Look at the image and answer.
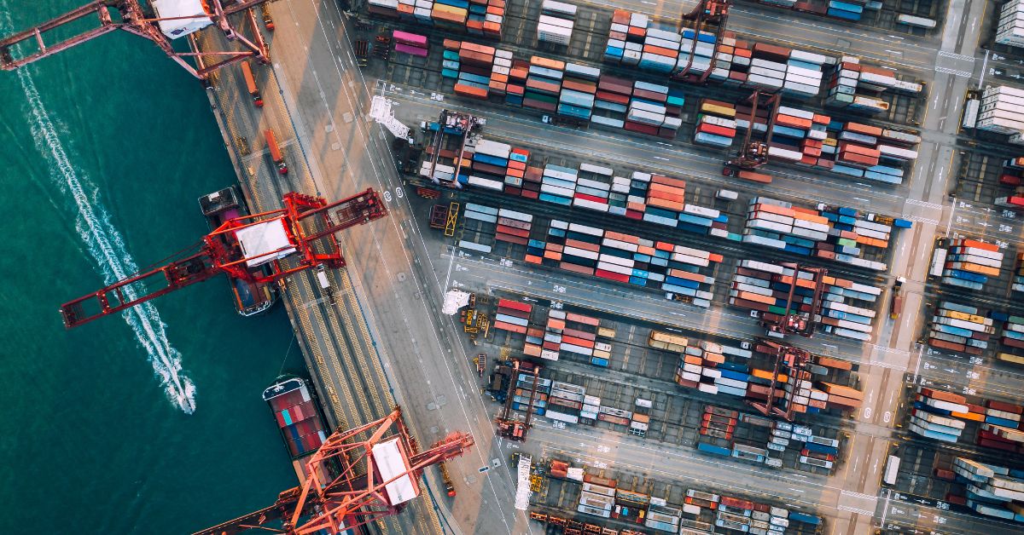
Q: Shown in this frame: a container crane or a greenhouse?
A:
container crane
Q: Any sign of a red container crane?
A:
Yes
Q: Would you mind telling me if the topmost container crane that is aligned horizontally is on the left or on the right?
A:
left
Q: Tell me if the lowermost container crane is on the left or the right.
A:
left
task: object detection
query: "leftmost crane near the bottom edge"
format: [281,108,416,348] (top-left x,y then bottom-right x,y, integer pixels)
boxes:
[187,396,475,535]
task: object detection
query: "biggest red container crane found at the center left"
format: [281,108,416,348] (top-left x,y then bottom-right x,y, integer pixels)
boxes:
[58,187,391,329]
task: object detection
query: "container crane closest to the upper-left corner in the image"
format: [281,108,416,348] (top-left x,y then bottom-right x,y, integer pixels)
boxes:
[0,0,278,92]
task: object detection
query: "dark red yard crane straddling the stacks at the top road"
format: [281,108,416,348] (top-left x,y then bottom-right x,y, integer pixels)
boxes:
[674,0,733,82]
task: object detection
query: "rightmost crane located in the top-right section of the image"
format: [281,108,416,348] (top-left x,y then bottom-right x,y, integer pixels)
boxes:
[724,88,786,173]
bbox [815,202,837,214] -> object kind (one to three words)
vehicle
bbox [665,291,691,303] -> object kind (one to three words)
vehicle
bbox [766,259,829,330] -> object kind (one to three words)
crane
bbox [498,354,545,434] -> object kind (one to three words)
crane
